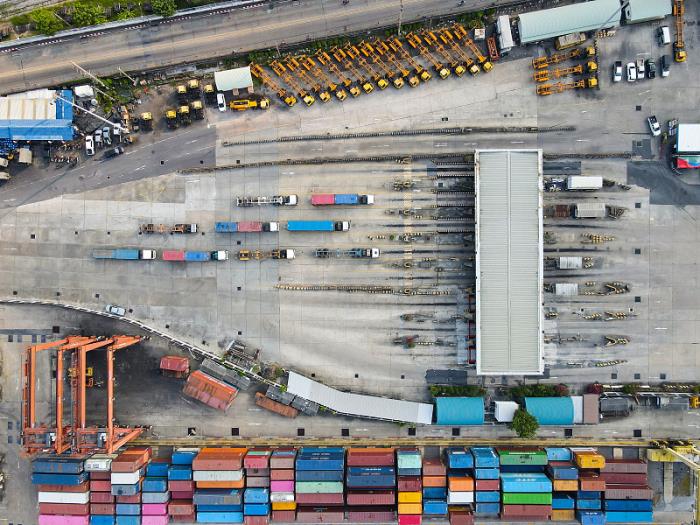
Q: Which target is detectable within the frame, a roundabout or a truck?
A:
truck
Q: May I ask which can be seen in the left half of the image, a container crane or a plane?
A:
container crane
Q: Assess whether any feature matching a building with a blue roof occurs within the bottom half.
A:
Yes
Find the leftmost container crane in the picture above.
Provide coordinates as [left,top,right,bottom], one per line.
[17,336,103,457]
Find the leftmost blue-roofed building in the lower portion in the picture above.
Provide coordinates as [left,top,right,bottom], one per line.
[435,394,485,425]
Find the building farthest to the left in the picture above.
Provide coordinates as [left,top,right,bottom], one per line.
[0,88,81,142]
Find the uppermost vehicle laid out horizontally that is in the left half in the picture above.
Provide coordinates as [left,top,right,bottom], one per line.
[230,96,269,110]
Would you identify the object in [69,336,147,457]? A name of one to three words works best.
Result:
container crane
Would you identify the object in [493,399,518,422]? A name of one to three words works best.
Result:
shed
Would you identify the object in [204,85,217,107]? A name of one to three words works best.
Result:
vehicle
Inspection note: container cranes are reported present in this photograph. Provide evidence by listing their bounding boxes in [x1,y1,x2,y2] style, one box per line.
[69,336,147,457]
[649,442,700,525]
[17,336,103,457]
